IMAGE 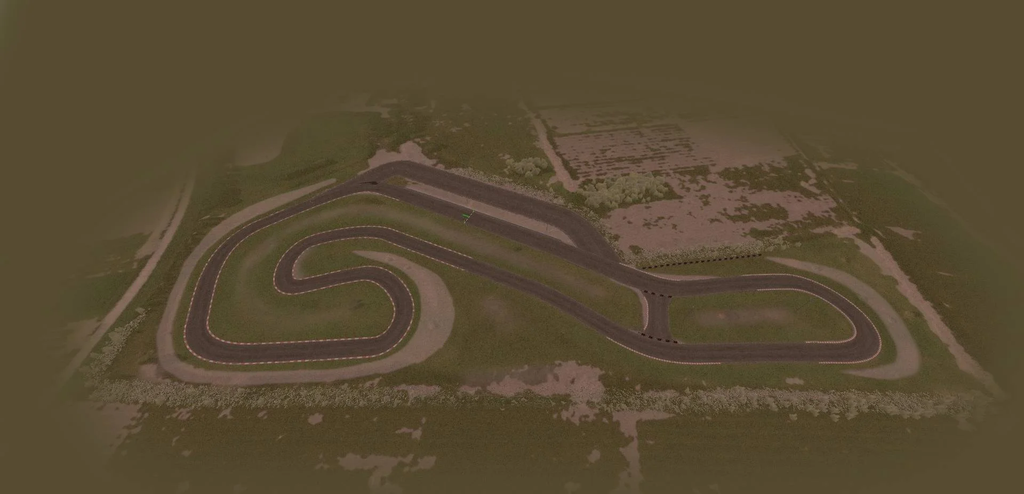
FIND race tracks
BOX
[186,182,880,364]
